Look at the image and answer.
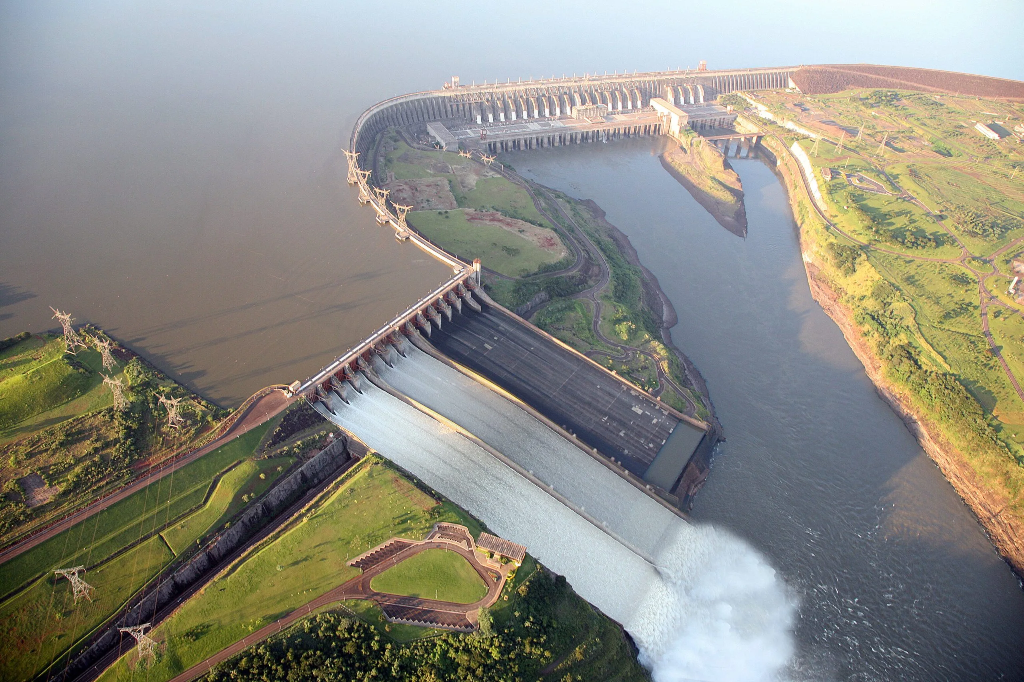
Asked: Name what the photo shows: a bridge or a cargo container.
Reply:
bridge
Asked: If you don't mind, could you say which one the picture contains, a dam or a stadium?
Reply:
dam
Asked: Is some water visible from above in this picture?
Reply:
Yes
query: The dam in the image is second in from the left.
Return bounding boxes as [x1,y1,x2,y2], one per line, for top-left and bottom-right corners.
[451,69,708,125]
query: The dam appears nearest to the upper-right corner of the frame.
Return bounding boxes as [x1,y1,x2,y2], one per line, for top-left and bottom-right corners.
[802,63,1024,111]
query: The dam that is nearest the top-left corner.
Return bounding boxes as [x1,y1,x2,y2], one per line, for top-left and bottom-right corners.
[348,87,473,272]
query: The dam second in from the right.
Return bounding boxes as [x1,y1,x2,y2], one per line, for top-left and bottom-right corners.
[697,63,812,99]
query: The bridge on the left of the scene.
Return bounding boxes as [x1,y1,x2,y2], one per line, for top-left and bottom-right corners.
[291,269,473,400]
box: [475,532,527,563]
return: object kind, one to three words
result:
building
